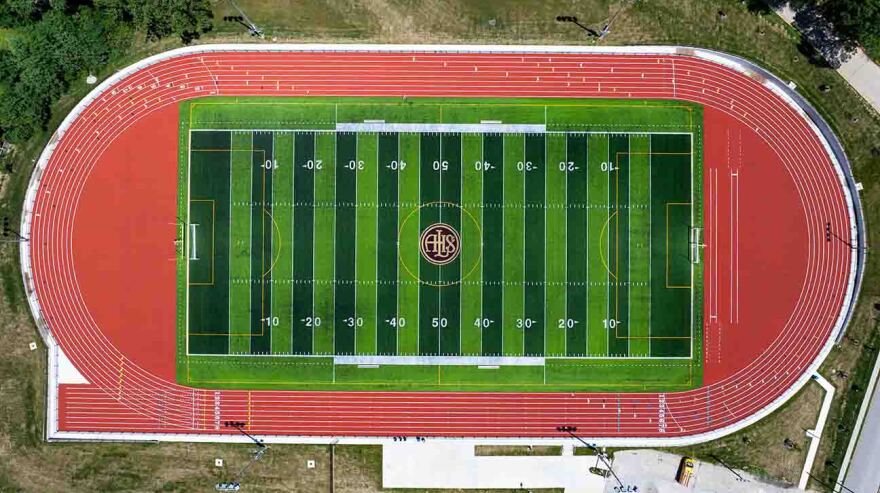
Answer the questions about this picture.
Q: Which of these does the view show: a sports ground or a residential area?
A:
sports ground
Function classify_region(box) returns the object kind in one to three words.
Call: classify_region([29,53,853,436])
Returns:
running track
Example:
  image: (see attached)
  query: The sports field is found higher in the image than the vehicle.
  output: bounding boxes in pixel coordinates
[175,96,704,393]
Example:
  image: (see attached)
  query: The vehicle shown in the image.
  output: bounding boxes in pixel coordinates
[681,458,697,490]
